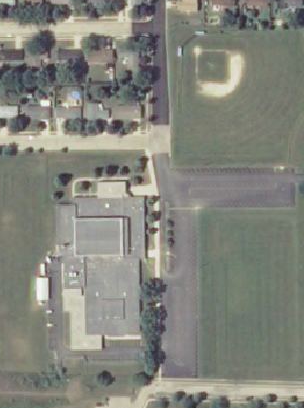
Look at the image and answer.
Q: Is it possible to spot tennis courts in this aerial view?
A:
No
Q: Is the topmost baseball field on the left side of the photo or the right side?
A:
right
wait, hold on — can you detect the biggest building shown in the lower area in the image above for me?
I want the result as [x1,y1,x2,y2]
[56,181,146,351]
